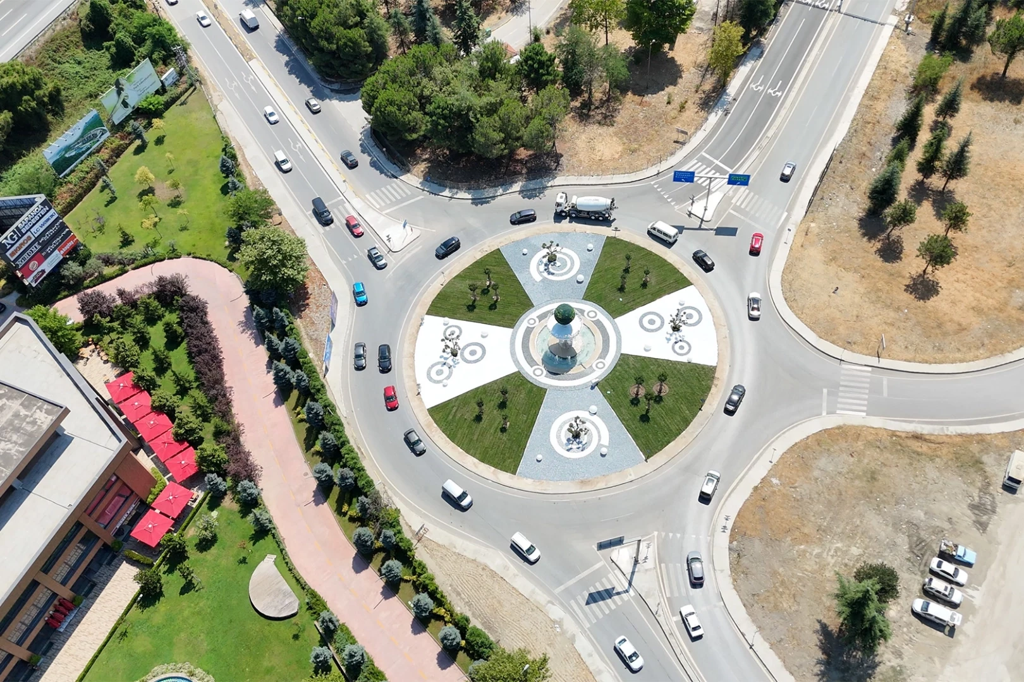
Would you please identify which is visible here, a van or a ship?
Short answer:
van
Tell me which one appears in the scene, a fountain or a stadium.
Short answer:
fountain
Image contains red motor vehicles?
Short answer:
Yes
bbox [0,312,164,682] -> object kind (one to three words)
building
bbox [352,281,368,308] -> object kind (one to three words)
car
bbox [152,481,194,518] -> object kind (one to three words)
umbrella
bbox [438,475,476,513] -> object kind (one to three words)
van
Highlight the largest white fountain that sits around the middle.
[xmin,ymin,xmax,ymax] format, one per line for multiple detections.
[529,301,599,371]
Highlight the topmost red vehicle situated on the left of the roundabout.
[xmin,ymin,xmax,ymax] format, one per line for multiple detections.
[344,214,364,238]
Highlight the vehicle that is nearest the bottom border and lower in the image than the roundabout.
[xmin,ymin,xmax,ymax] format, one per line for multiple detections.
[610,630,647,677]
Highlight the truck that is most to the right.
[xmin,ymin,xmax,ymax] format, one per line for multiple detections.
[994,439,1024,497]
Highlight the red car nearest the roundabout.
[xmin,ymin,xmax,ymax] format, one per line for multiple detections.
[382,383,400,413]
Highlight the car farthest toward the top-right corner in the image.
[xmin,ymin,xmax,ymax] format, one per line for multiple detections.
[778,161,796,183]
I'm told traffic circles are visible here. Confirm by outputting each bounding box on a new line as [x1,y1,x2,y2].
[402,223,733,495]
